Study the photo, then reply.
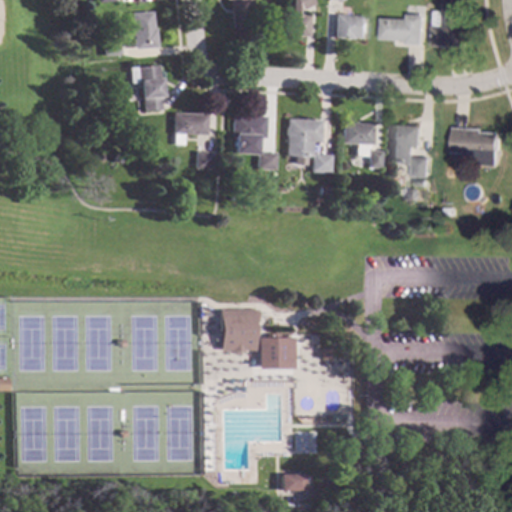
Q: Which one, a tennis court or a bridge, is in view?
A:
tennis court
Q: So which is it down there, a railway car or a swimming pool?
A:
swimming pool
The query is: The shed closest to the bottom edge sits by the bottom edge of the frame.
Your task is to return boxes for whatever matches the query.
[283,474,308,492]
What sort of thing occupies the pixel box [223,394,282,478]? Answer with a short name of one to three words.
swimming pool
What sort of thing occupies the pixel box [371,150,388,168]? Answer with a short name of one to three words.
building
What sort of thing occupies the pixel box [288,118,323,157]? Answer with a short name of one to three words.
house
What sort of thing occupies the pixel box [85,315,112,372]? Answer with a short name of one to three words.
tennis court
